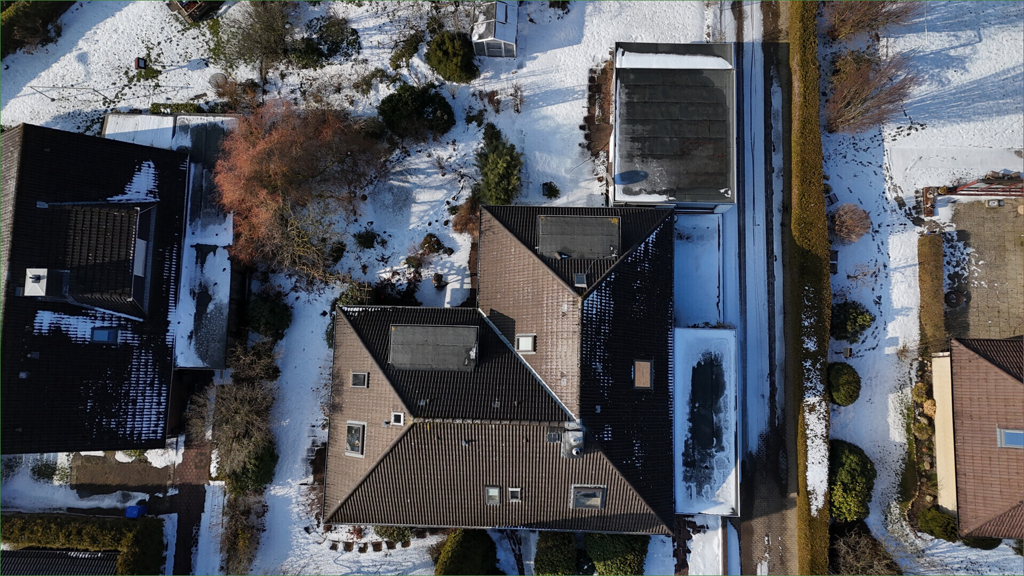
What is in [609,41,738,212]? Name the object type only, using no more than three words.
building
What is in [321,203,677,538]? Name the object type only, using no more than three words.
house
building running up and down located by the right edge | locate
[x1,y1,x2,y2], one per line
[932,337,1024,539]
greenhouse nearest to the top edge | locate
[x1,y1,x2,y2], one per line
[473,0,519,57]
